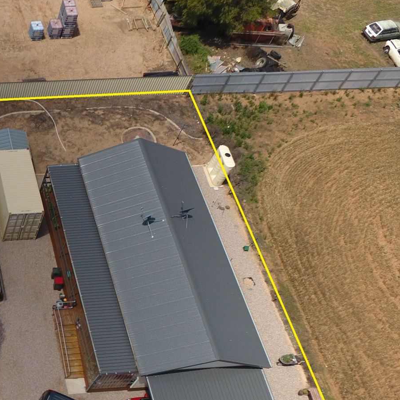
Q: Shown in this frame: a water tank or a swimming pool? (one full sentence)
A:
Visible in the photo is a water tank.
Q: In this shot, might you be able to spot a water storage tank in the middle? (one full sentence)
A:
Yes, a water storage tank is visible in the middle.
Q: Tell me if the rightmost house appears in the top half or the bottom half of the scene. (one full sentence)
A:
The bottom half of the photo is where the rightmost house is.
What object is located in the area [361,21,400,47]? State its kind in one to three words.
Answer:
car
